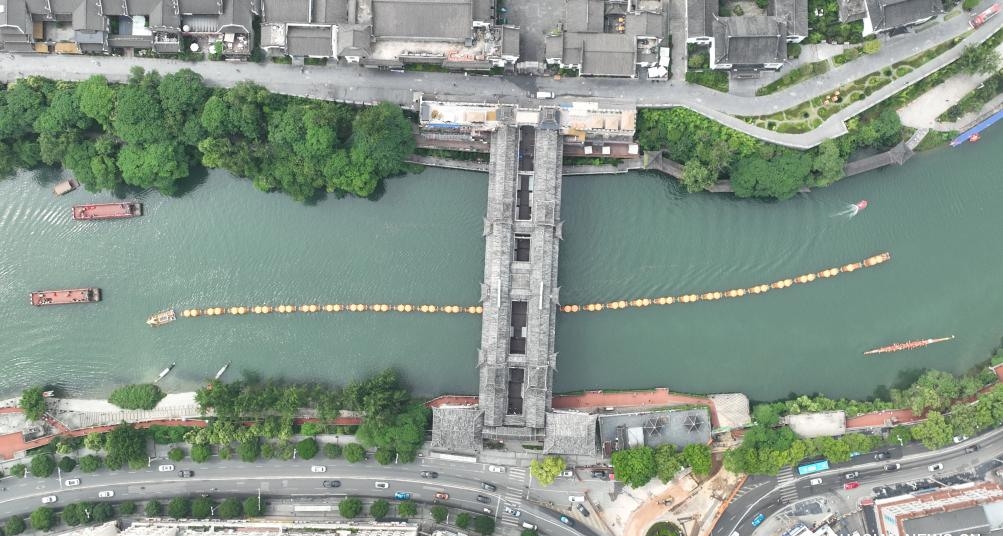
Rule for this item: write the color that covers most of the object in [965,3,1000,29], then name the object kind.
white bus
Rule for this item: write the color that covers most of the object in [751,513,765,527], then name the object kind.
blue vehicle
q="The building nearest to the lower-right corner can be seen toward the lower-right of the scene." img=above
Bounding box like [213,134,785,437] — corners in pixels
[876,480,1003,536]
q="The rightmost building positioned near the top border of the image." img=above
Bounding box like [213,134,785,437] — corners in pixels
[867,0,947,34]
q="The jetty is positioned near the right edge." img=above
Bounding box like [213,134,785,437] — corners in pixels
[946,109,1003,149]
